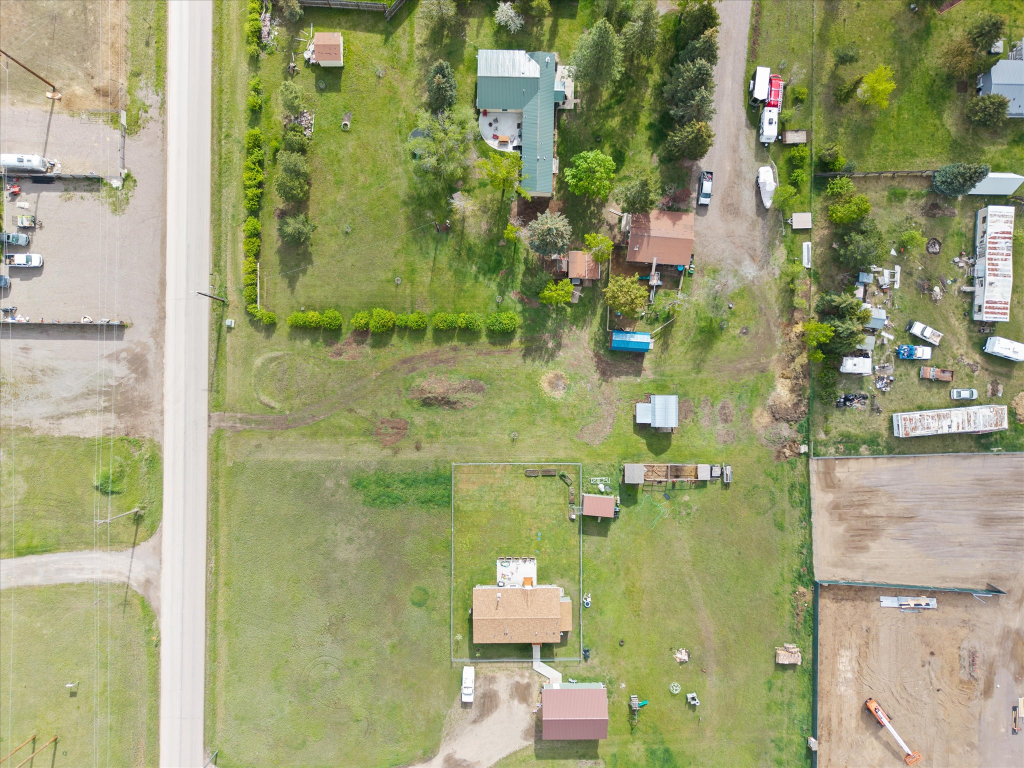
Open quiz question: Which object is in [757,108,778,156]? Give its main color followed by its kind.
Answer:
white trailer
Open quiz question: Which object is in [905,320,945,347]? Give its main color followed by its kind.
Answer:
white truck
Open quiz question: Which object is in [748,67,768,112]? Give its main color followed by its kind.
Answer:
white trailer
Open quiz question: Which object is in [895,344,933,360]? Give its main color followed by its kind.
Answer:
white vehicle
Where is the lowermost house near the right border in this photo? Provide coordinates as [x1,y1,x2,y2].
[887,405,1008,438]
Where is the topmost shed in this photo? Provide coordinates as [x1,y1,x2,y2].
[312,33,345,67]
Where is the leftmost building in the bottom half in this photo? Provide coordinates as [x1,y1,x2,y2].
[471,573,572,644]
